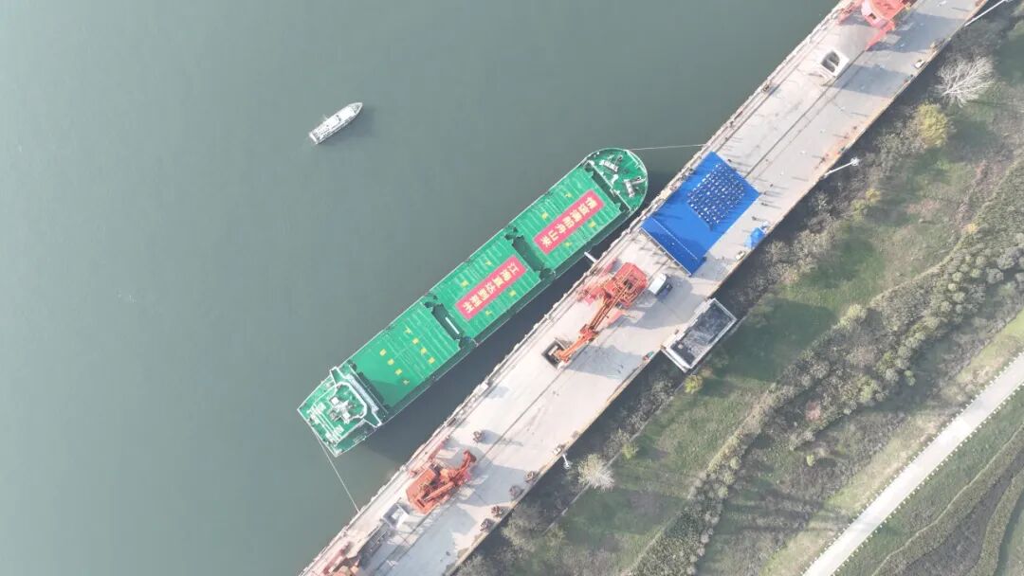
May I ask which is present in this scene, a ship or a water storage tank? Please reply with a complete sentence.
The image shows a ship.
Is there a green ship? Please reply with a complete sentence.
Yes, there is a green ship in the image.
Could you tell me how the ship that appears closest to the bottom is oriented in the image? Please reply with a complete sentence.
In this picture, the ship that appears closest to the bottom lies at an angle.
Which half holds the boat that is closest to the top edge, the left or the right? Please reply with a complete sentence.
You can find the boat that is closest to the top edge on the left side of the picture.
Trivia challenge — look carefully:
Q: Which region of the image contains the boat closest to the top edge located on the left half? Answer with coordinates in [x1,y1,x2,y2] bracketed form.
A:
[309,105,361,145]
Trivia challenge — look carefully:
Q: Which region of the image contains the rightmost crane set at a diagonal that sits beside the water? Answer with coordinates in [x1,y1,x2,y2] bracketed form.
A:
[556,257,650,364]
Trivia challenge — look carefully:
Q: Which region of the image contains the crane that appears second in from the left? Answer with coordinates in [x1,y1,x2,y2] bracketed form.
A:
[411,435,480,517]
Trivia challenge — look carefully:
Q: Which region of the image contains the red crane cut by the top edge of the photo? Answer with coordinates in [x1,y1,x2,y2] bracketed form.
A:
[837,0,914,48]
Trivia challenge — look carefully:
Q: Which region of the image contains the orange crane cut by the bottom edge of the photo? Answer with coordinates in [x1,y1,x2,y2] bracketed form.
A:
[315,544,356,576]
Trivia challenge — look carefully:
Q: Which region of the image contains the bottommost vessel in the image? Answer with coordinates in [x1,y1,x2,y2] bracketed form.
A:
[294,146,650,452]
